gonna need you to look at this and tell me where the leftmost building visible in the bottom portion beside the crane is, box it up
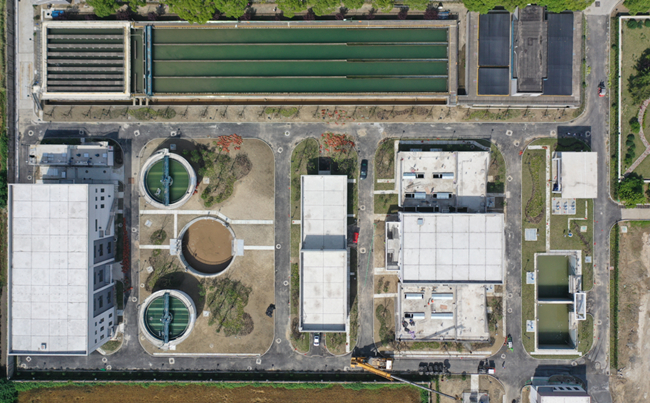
[299,162,348,332]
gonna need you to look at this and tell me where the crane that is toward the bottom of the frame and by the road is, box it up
[351,356,460,400]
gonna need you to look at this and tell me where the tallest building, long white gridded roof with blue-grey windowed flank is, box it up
[9,183,117,355]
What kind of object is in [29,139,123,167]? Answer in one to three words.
building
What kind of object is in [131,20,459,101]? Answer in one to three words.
storage tank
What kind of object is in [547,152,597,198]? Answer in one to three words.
building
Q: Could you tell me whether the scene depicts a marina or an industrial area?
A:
industrial area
